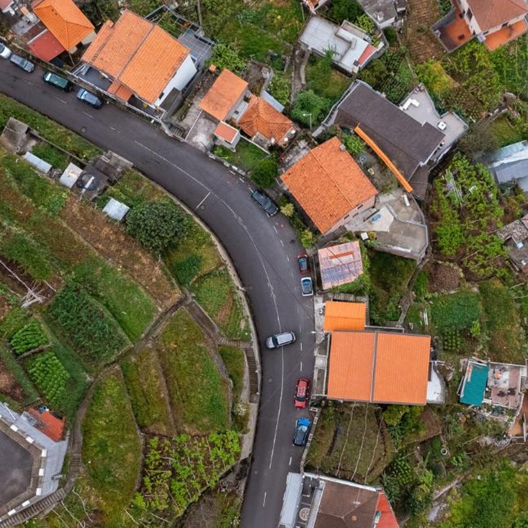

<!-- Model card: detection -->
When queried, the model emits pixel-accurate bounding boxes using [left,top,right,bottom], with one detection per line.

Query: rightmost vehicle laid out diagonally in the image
[250,187,278,216]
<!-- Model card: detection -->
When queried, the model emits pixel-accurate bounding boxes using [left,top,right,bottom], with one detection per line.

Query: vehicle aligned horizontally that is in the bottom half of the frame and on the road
[265,333,295,347]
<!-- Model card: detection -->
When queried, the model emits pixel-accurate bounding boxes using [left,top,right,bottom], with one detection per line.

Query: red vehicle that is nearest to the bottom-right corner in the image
[295,378,308,408]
